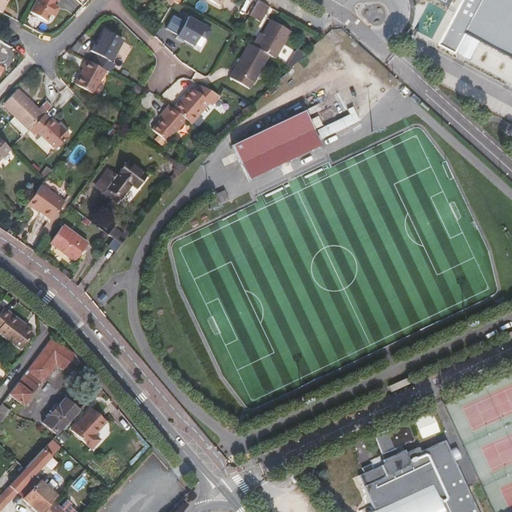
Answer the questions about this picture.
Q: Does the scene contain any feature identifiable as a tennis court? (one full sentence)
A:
Yes, this view includes a tennis court.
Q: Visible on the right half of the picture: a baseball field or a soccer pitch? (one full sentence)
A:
Visible on the right half of the picture is a soccer pitch.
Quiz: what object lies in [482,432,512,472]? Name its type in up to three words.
tennis court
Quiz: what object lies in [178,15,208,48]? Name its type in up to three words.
house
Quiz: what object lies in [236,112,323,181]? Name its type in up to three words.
building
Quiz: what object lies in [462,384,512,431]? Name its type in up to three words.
tennis court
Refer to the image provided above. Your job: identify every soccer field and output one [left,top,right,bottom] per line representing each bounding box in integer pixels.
[172,126,497,406]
